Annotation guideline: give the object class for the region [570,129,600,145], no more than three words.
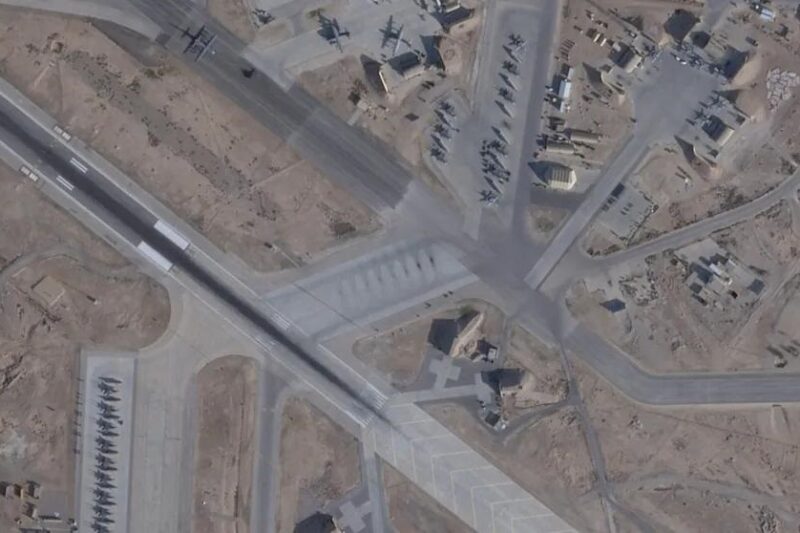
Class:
building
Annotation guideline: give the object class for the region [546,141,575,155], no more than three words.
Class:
building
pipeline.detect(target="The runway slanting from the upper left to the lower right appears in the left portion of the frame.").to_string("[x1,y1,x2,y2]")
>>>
[0,76,577,533]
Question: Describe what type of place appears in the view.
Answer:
airport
